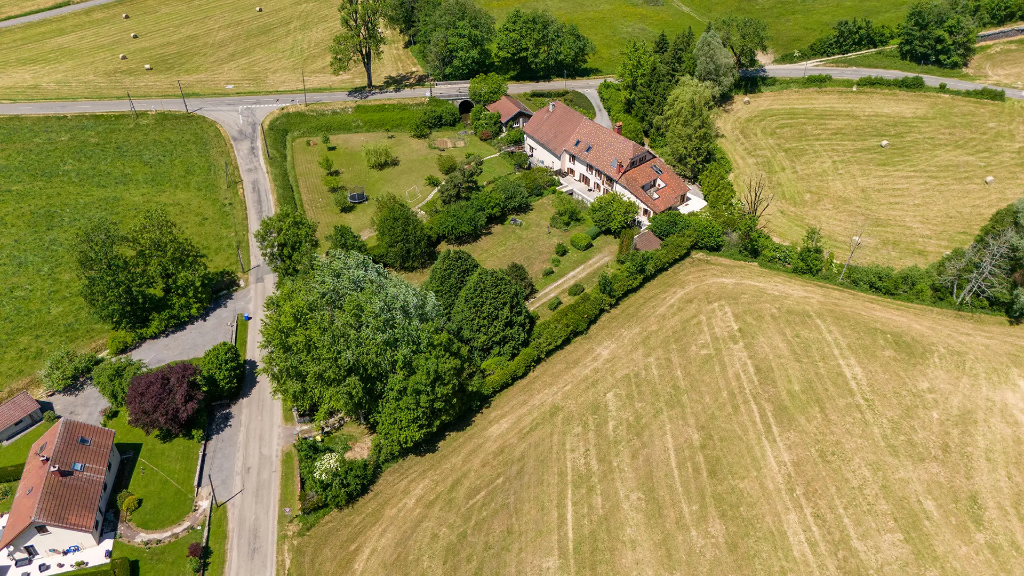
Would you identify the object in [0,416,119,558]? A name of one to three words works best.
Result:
house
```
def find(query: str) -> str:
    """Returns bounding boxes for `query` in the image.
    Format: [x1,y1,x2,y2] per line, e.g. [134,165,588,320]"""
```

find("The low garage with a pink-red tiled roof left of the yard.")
[0,388,44,443]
